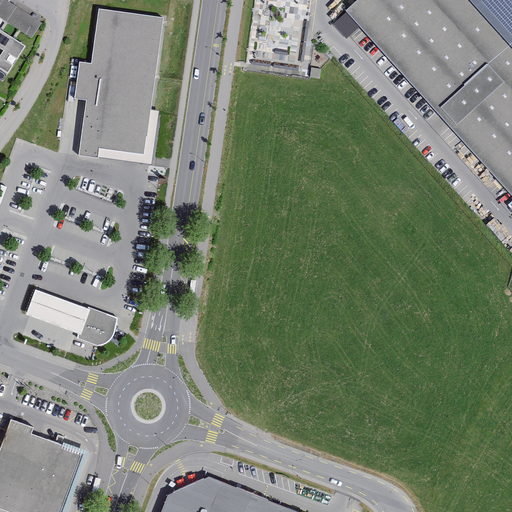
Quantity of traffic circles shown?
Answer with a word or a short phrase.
one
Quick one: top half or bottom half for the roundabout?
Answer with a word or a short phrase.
bottom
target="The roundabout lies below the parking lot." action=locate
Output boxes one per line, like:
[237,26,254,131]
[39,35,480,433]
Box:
[106,364,190,448]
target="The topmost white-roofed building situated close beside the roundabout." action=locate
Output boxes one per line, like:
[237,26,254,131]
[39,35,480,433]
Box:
[24,290,117,346]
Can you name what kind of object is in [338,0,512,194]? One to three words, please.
building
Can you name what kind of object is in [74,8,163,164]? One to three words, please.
building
